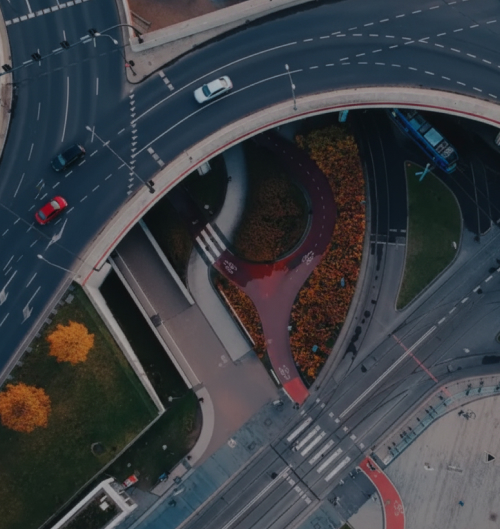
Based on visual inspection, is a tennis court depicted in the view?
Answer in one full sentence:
No, the frame has no tennis court in it.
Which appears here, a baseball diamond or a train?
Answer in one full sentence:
Of the two, only a train appears.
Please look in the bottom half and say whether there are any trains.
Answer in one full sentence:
No, there's no train to be seen in the bottom half.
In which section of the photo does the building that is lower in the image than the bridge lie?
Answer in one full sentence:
Look in the bottom left portion of the view to spot the building that is lower in the image than the bridge.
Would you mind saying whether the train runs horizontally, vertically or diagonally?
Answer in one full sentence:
The train runs diagonally in the image.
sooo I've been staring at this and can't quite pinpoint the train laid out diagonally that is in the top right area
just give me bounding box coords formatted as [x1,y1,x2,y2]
[392,110,462,171]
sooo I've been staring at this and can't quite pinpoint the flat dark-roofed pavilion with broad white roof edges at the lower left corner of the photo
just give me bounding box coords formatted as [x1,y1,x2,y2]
[52,476,138,529]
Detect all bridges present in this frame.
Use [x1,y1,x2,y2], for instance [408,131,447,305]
[0,0,500,389]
